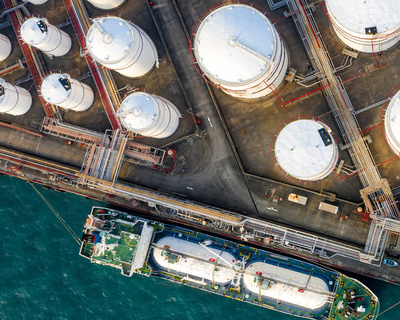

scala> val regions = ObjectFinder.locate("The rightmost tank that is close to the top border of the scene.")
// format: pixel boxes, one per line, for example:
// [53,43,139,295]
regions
[321,0,400,58]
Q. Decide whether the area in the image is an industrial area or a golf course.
industrial area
